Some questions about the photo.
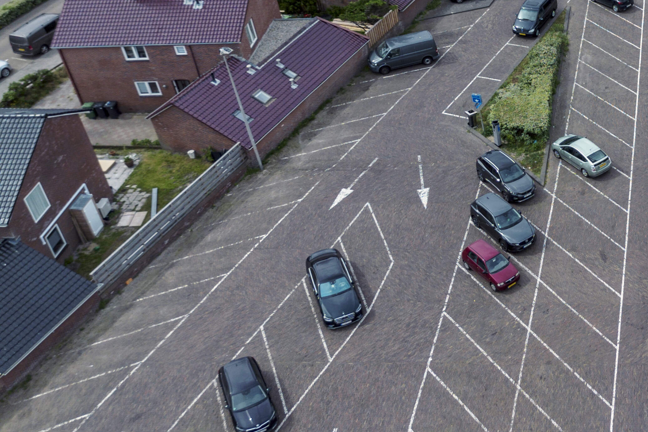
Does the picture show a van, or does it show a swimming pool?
van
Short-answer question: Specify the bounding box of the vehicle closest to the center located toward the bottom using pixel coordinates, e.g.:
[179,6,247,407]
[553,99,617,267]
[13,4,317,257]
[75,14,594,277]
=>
[302,250,359,329]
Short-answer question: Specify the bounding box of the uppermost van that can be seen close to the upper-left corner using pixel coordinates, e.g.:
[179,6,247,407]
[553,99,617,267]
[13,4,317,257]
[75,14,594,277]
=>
[11,18,59,58]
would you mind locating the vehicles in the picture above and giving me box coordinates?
[302,250,359,329]
[473,149,534,203]
[370,31,438,74]
[511,0,558,38]
[549,134,612,178]
[466,193,533,252]
[460,239,518,291]
[11,18,59,58]
[218,352,274,432]
[590,0,636,12]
